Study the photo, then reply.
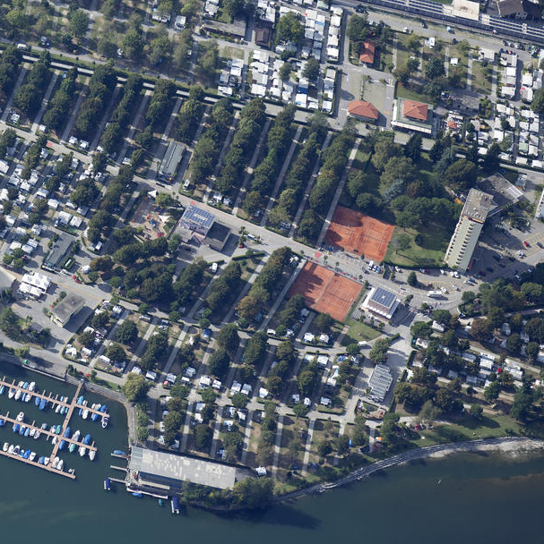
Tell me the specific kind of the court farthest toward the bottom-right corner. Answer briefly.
tennis court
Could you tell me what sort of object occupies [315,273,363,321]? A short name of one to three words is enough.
tennis court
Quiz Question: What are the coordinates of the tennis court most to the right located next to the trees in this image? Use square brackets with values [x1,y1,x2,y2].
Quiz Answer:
[354,215,395,261]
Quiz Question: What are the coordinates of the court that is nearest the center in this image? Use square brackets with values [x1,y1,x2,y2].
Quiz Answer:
[295,262,336,310]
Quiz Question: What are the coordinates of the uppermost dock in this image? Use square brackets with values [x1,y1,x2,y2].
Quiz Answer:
[0,377,110,421]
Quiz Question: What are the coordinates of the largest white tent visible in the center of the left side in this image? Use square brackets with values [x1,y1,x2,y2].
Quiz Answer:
[25,273,51,294]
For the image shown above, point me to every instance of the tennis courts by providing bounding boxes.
[295,262,336,310]
[354,215,395,261]
[327,206,366,252]
[315,273,363,321]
